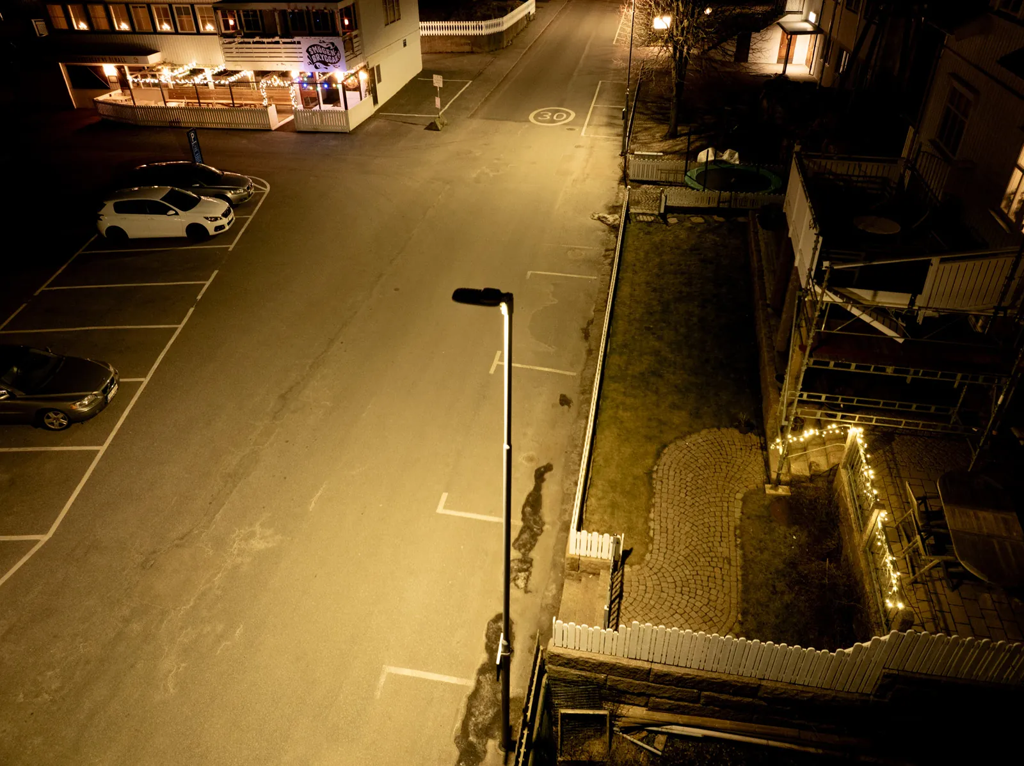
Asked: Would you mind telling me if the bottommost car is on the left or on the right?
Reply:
left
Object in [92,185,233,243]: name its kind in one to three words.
car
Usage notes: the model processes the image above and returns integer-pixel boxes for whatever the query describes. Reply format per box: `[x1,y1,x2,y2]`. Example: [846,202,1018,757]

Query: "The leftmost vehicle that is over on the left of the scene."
[0,341,119,431]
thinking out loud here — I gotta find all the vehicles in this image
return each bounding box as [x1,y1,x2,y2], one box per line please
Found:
[0,341,119,431]
[120,154,259,205]
[92,185,233,243]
